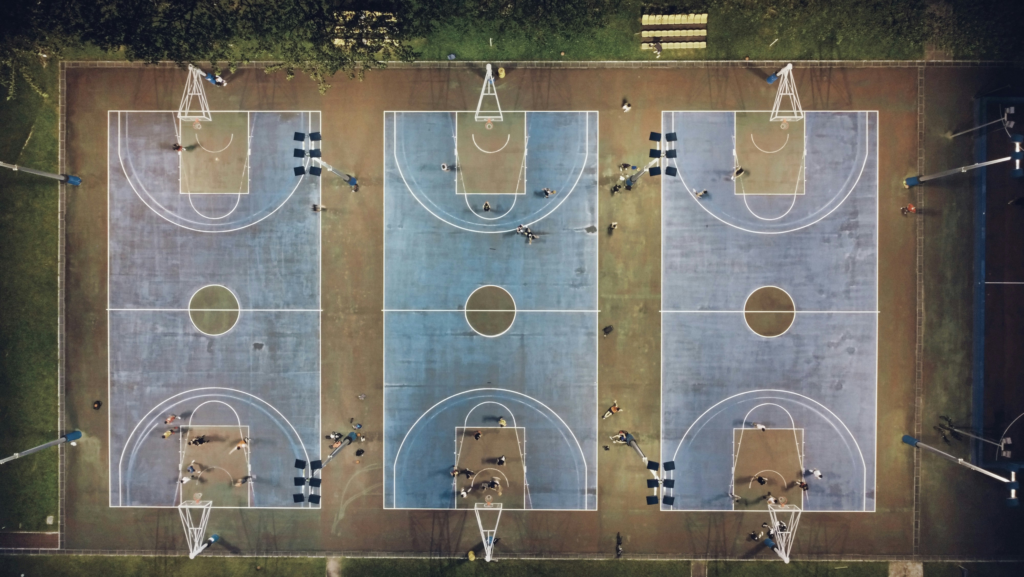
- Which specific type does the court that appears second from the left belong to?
basketball court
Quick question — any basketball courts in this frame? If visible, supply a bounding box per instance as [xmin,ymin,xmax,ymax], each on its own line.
[659,111,879,512]
[382,111,600,510]
[106,111,323,509]
[972,97,1024,472]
